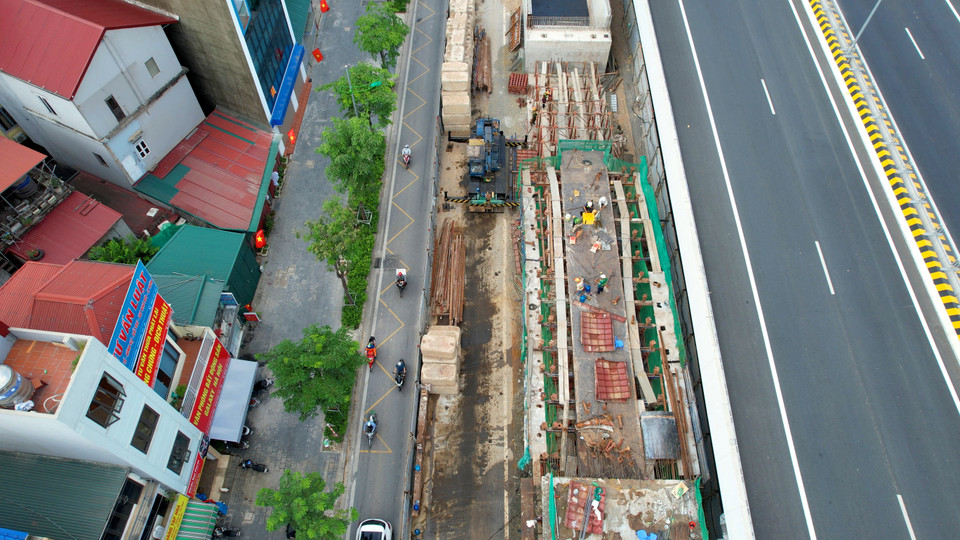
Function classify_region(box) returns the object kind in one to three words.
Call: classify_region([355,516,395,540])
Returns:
car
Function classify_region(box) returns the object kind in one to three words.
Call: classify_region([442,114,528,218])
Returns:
crane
